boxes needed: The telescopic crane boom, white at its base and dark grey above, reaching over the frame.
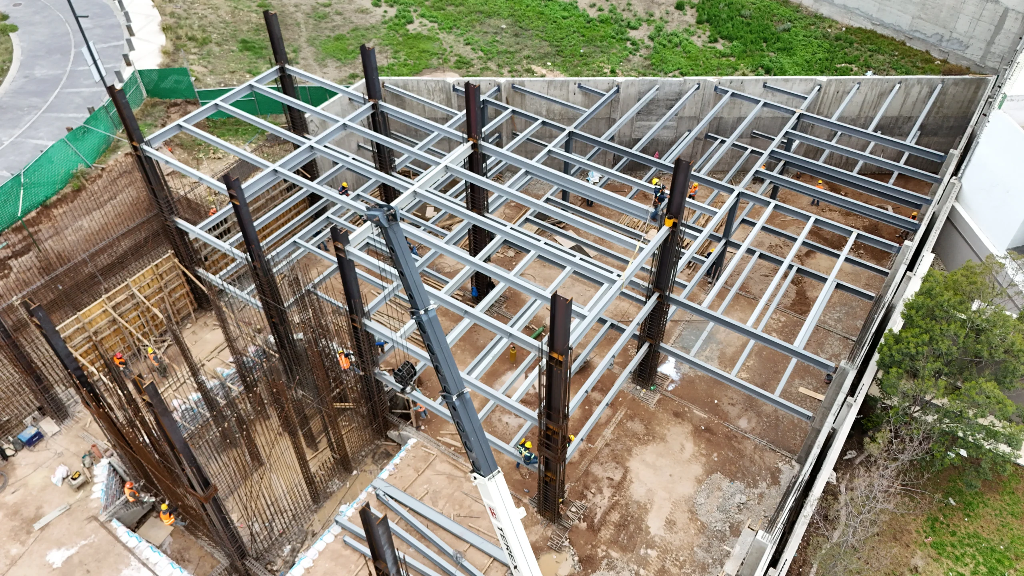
[371,213,537,576]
